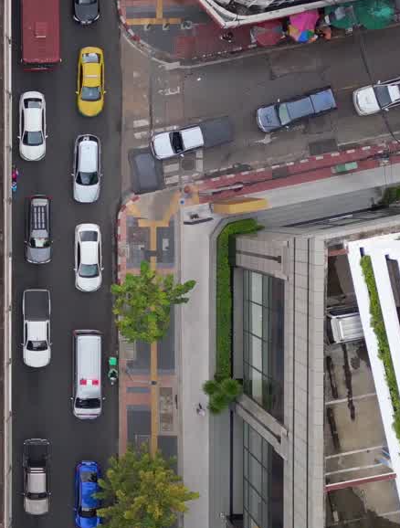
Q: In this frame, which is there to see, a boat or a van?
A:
van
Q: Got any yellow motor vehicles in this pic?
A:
Yes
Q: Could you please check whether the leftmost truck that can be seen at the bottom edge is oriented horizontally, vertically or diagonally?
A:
vertically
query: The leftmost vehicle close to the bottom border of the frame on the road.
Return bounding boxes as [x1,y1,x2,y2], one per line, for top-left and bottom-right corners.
[21,437,53,512]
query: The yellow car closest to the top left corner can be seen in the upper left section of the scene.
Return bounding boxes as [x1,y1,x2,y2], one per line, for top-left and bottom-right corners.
[77,47,107,117]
